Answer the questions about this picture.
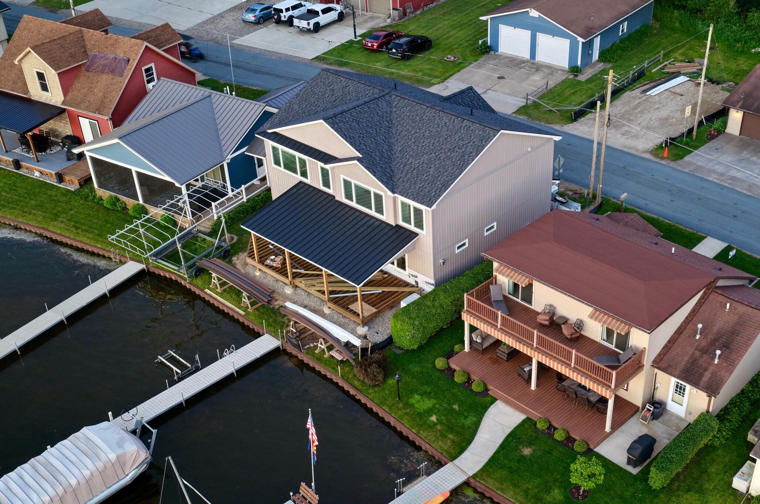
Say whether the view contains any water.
Yes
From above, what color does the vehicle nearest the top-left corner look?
blue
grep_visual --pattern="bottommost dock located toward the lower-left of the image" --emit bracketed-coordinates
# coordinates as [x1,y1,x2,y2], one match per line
[100,324,283,433]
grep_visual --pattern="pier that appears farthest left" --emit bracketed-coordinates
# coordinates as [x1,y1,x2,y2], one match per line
[0,253,144,362]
